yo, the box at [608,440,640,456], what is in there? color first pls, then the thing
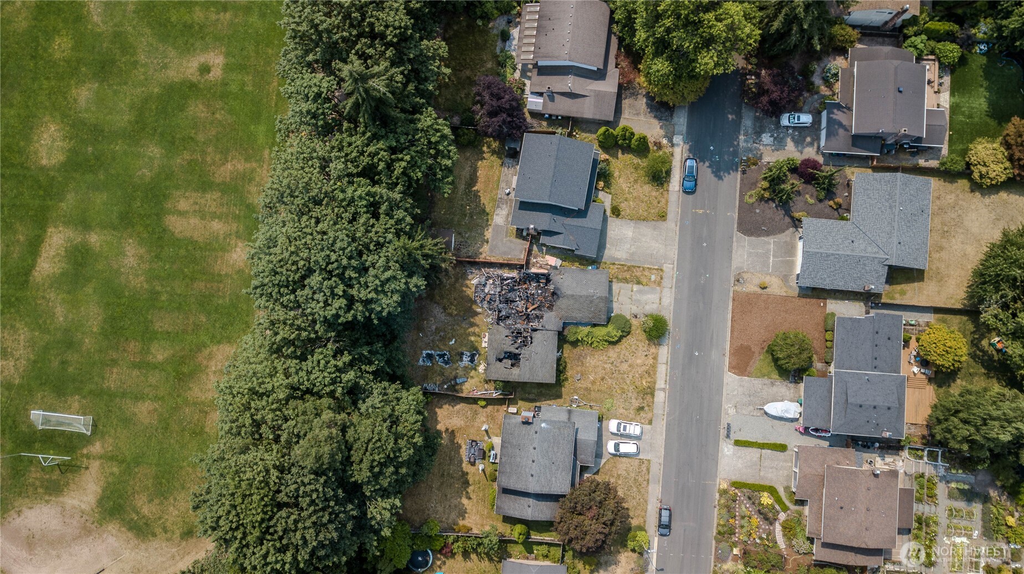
white car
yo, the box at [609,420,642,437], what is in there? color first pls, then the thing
white car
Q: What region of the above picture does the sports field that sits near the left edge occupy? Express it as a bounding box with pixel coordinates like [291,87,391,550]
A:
[0,0,325,574]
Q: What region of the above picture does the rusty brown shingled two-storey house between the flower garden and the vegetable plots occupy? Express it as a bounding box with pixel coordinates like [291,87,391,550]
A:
[787,444,915,566]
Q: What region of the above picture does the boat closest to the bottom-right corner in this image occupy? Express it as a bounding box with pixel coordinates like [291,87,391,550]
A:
[805,428,828,441]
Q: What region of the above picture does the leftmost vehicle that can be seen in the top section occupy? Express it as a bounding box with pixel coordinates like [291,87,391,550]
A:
[681,158,697,192]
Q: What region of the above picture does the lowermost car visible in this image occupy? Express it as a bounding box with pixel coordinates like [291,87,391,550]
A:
[657,505,673,535]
